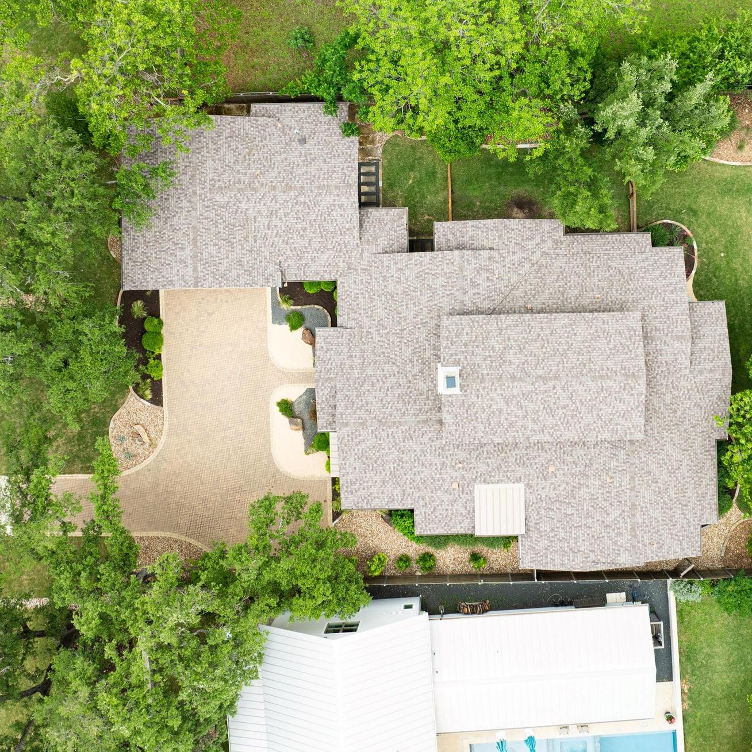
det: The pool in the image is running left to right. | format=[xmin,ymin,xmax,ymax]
[469,731,672,752]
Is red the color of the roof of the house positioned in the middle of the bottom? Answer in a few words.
No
